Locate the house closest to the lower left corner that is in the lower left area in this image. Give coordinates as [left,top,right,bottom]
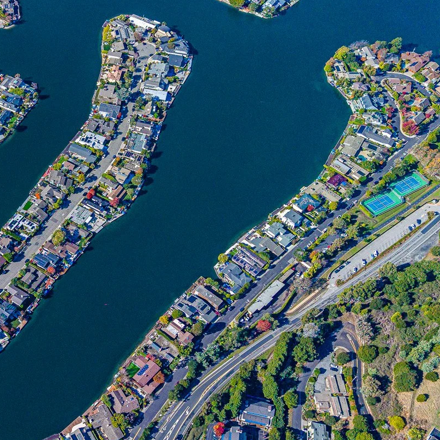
[67,424,92,440]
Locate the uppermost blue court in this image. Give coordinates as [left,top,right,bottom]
[387,170,428,196]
